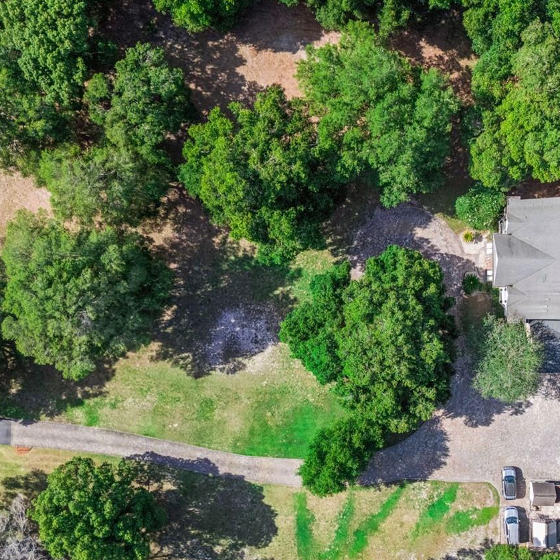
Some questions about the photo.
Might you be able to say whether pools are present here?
No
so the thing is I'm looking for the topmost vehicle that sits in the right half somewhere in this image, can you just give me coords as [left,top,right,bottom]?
[501,466,517,498]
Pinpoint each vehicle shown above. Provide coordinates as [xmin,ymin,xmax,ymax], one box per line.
[503,506,519,545]
[501,466,517,498]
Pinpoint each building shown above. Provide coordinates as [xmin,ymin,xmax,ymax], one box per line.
[531,517,556,549]
[529,480,556,506]
[484,196,560,372]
